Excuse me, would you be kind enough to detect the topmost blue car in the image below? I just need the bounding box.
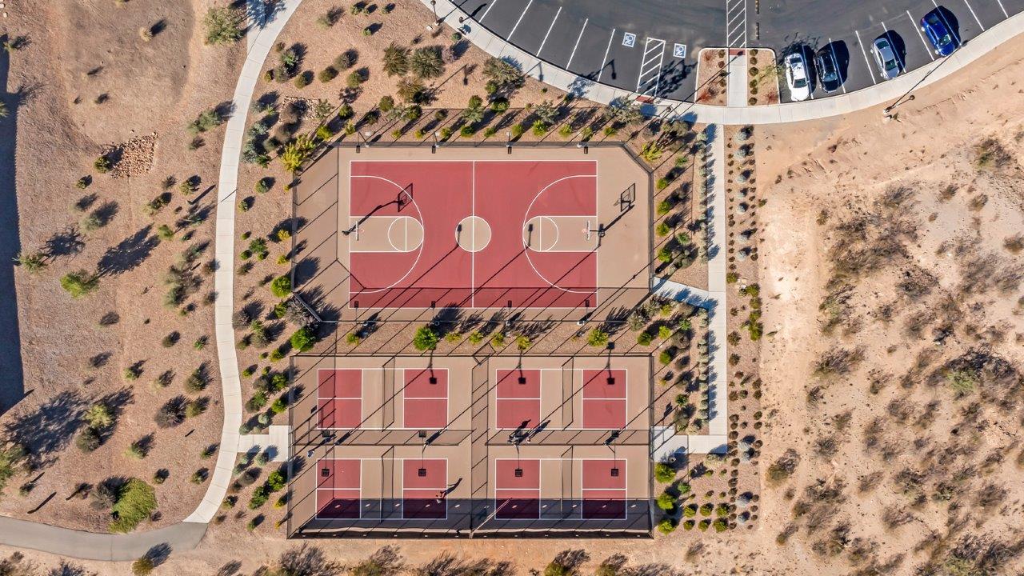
[925,9,957,56]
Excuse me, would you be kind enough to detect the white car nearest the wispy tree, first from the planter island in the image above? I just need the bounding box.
[786,52,812,101]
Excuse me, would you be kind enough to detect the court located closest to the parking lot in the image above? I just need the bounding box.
[298,148,647,321]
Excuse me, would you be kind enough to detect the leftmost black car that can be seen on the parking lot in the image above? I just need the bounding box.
[817,48,843,94]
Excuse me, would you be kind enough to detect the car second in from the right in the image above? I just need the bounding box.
[876,34,903,80]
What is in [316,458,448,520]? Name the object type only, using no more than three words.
sports court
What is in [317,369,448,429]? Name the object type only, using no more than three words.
sports court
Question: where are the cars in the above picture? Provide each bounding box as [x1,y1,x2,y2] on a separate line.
[925,9,957,56]
[786,52,812,101]
[817,48,843,94]
[876,34,903,80]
